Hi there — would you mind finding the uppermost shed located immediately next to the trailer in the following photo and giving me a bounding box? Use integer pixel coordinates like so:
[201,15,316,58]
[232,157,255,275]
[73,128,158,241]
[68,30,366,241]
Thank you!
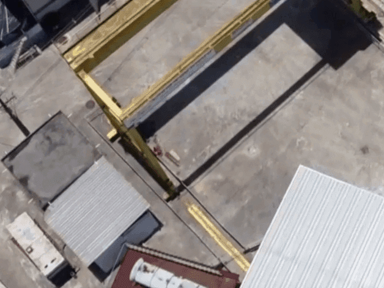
[0,109,108,211]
